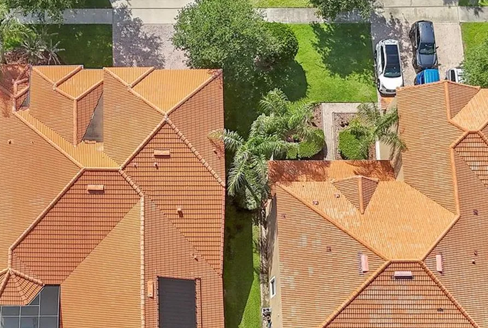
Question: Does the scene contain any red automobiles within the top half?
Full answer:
No, the scene shows no red automobile within the top half.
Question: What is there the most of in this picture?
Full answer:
What you mostly see from above here is buildings.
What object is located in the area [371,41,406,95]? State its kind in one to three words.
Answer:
car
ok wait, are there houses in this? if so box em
[0,64,226,328]
[263,79,488,328]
